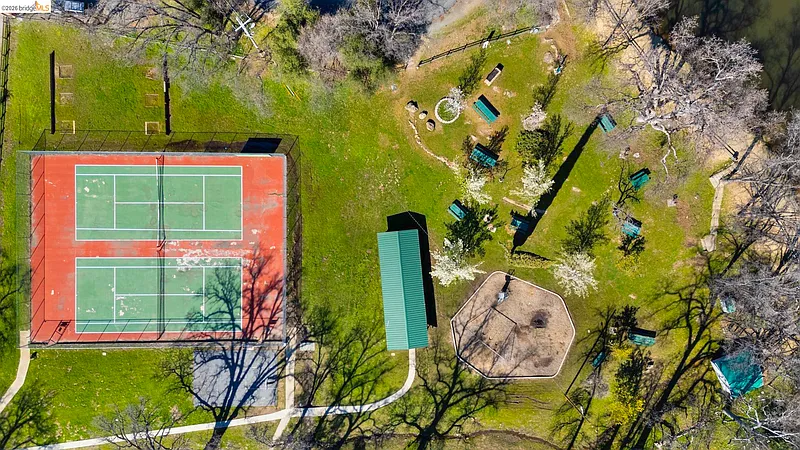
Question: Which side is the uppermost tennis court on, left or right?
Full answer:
It is on the left.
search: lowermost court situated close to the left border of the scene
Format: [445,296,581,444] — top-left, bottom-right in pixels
[31,249,282,344]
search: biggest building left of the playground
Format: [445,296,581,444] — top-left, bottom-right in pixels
[377,230,427,352]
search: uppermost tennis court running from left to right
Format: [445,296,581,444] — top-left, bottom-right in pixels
[31,154,282,249]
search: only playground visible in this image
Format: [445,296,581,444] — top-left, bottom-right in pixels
[452,272,574,379]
